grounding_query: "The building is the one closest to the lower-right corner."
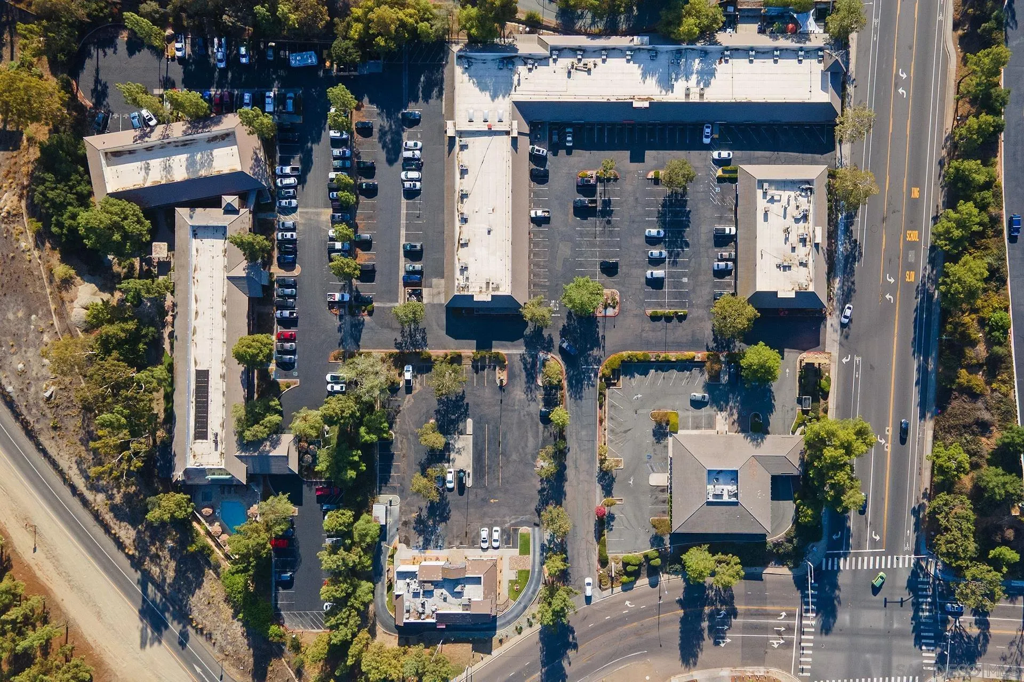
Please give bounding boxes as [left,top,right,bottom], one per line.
[671,434,802,533]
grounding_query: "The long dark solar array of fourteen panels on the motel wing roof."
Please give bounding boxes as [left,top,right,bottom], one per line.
[193,370,209,443]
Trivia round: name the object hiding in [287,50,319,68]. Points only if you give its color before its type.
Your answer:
blue camper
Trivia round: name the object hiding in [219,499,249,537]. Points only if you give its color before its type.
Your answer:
blue swimming pool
